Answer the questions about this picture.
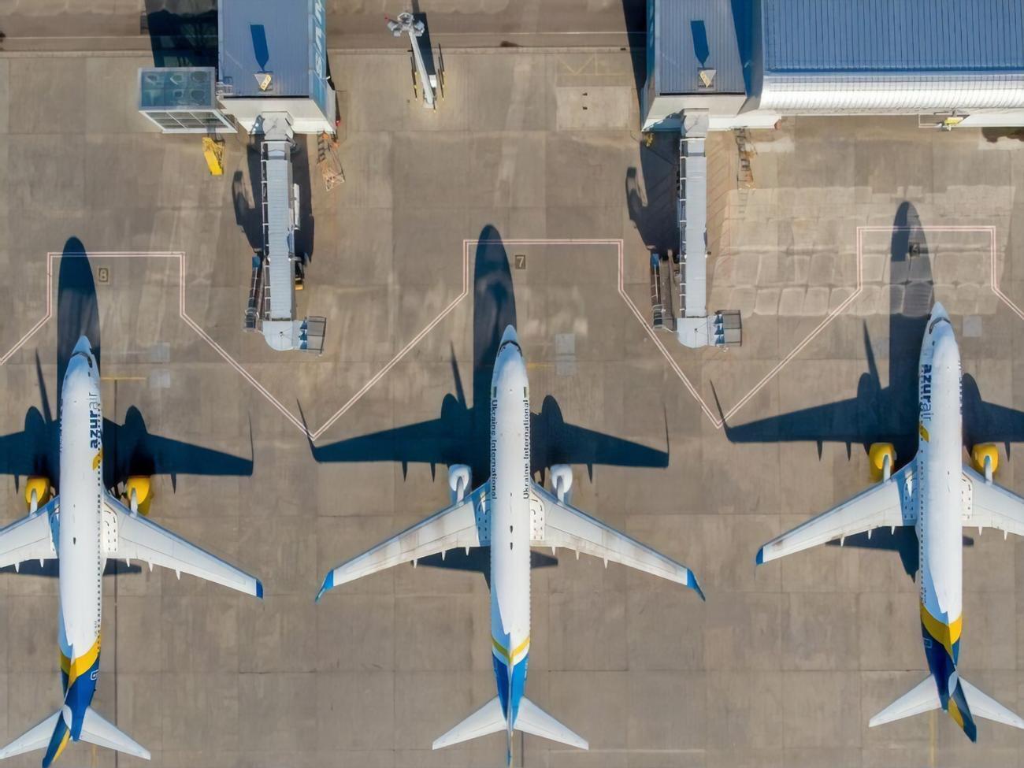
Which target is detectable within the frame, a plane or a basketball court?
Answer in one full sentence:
Looking from above, you can make out a plane.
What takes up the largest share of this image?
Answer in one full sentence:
For the most part, this view shows paved ground.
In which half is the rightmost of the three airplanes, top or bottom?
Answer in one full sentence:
Seen from above, the rightmost of the three airplanes lies in the bottom half of the view.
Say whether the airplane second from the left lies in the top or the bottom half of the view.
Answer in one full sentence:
Seen from above, the airplane second from the left lies in the bottom half of the view.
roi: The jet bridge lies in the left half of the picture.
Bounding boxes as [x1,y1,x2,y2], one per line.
[245,111,333,351]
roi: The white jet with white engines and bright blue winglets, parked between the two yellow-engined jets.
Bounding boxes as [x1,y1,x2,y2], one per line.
[315,325,707,761]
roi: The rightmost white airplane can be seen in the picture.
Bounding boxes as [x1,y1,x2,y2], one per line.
[757,302,1024,743]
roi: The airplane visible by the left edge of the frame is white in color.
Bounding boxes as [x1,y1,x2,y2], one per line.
[0,336,266,768]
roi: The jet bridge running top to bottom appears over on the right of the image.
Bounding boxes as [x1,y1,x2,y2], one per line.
[648,110,743,349]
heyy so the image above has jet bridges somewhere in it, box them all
[648,110,743,349]
[245,111,333,351]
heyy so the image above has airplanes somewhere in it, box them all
[0,336,266,768]
[315,325,707,761]
[757,302,1024,743]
